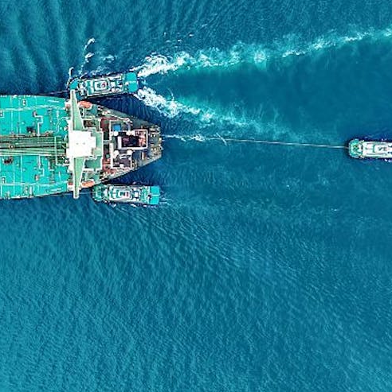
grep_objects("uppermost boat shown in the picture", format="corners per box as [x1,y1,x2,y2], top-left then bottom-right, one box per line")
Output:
[67,70,138,99]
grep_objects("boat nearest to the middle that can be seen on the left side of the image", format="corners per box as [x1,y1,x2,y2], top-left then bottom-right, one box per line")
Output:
[92,184,160,205]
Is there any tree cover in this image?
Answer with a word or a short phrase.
No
